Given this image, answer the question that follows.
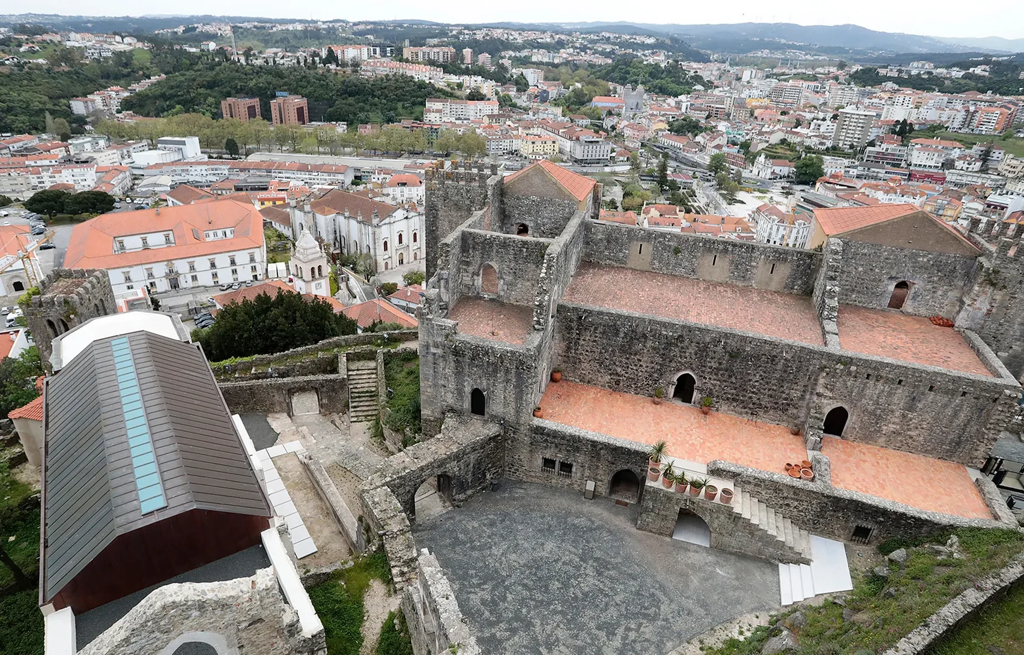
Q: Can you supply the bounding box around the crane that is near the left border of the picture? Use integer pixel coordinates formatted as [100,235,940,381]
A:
[0,222,76,292]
